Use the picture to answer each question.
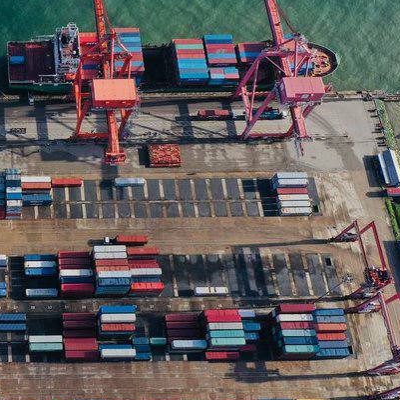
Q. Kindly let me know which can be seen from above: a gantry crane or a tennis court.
gantry crane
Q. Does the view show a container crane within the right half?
Yes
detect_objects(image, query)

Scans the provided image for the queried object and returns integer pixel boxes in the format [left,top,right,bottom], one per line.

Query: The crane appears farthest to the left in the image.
[68,0,151,161]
